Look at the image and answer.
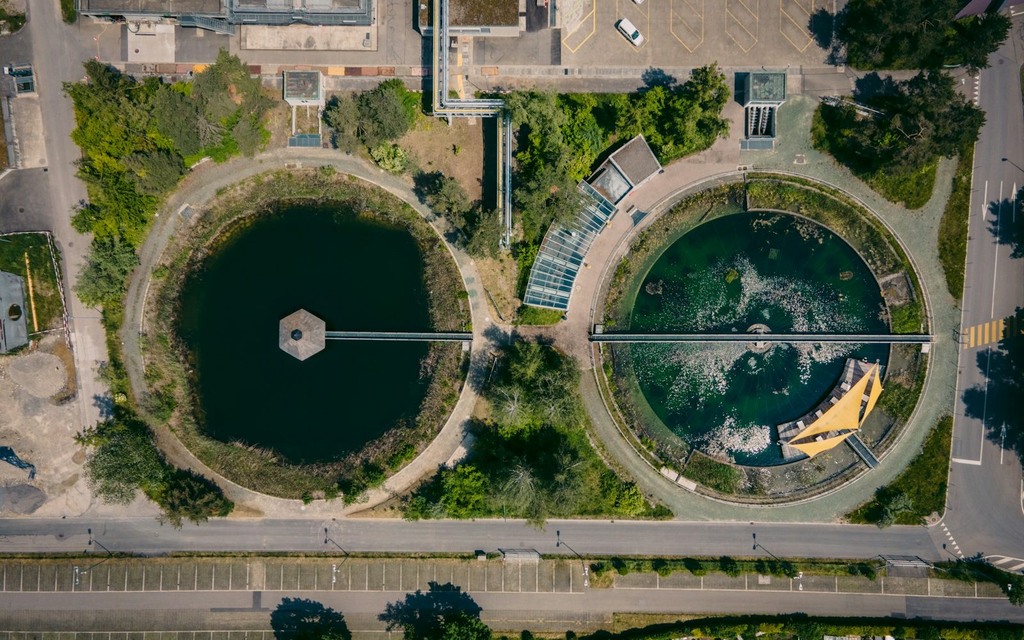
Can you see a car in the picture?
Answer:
Yes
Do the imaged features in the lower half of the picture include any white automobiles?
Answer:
No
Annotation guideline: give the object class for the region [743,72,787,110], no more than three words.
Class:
building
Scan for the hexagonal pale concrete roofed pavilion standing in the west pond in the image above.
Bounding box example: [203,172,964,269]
[279,308,326,361]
